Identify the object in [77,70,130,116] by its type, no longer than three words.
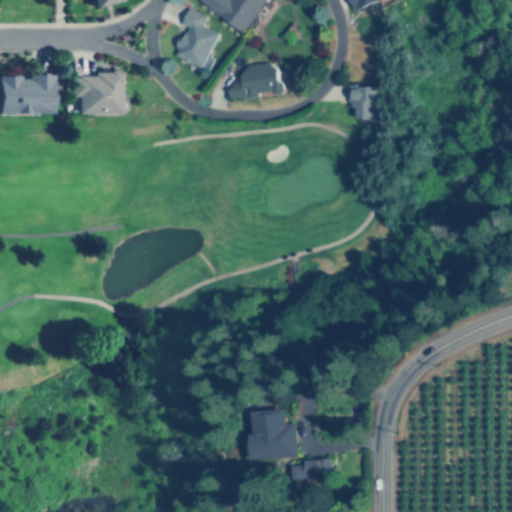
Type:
house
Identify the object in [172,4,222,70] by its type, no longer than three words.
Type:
house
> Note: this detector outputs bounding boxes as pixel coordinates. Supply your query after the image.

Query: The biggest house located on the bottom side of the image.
[248,410,297,461]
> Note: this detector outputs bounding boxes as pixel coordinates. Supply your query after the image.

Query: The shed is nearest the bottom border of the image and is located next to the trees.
[292,458,333,480]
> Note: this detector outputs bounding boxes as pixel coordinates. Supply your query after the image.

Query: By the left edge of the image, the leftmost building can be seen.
[4,73,60,116]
